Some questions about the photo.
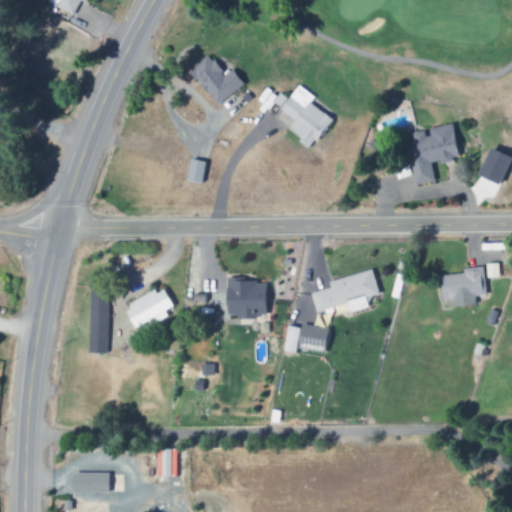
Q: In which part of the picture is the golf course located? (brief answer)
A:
top right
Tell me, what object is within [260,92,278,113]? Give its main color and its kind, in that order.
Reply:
white camper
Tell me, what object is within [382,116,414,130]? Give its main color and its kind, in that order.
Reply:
blue swimming pool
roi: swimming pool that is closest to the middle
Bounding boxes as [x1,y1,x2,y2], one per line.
[254,338,268,364]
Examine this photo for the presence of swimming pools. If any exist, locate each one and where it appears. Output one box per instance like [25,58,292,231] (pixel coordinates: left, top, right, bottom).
[382,116,414,130]
[254,338,268,364]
